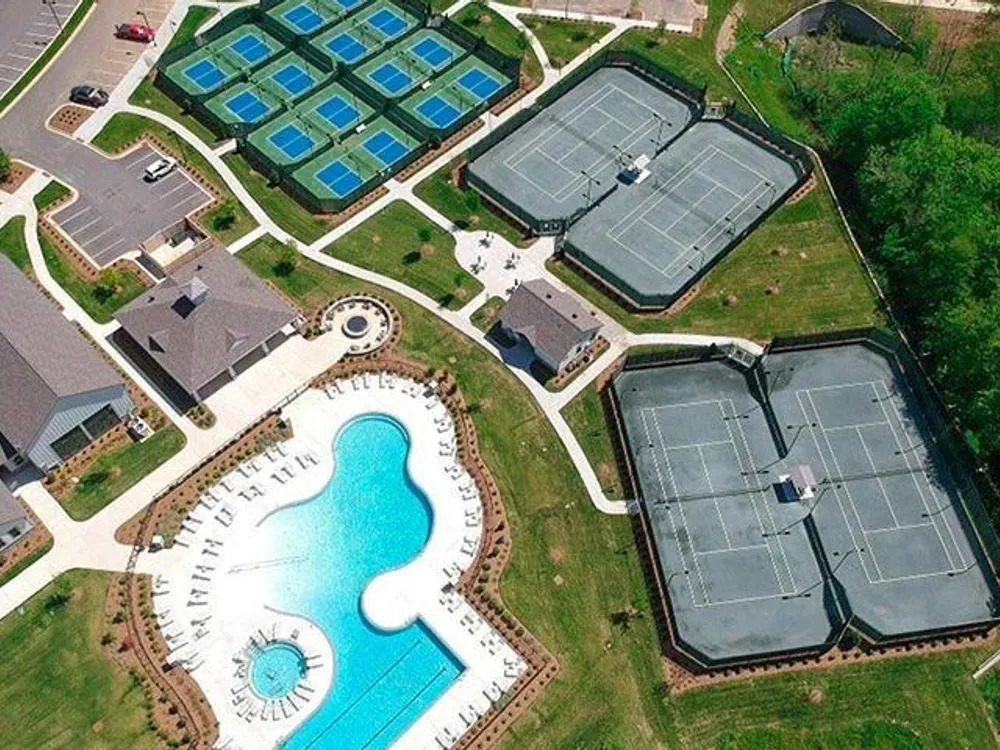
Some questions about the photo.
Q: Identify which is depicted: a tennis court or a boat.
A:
tennis court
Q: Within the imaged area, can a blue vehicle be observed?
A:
No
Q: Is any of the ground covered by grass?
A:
Yes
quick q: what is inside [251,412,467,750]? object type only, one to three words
swimming pool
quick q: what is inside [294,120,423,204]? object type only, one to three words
sports court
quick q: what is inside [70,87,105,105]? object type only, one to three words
car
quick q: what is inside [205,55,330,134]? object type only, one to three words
sports court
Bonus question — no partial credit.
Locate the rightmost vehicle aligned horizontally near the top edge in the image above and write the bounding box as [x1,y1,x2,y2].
[116,23,153,41]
